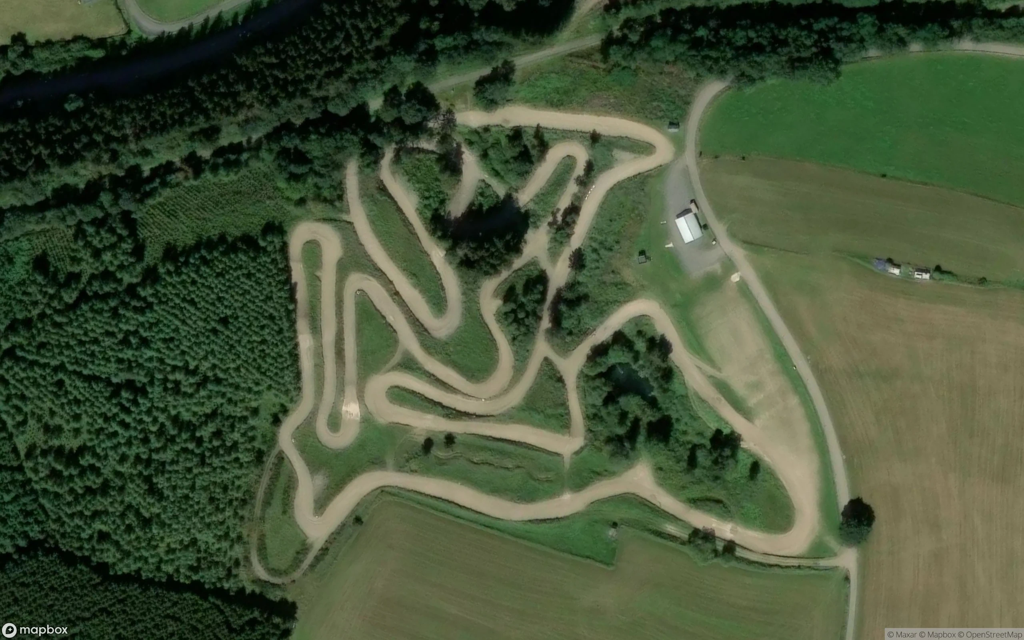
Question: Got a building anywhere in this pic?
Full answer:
Yes, a building can be made out from above.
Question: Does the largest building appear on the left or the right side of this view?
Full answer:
It is on the right.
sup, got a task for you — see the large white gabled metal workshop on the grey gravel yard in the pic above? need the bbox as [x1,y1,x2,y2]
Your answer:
[674,212,704,244]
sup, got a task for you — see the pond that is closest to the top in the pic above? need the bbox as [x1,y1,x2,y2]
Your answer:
[455,201,523,244]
